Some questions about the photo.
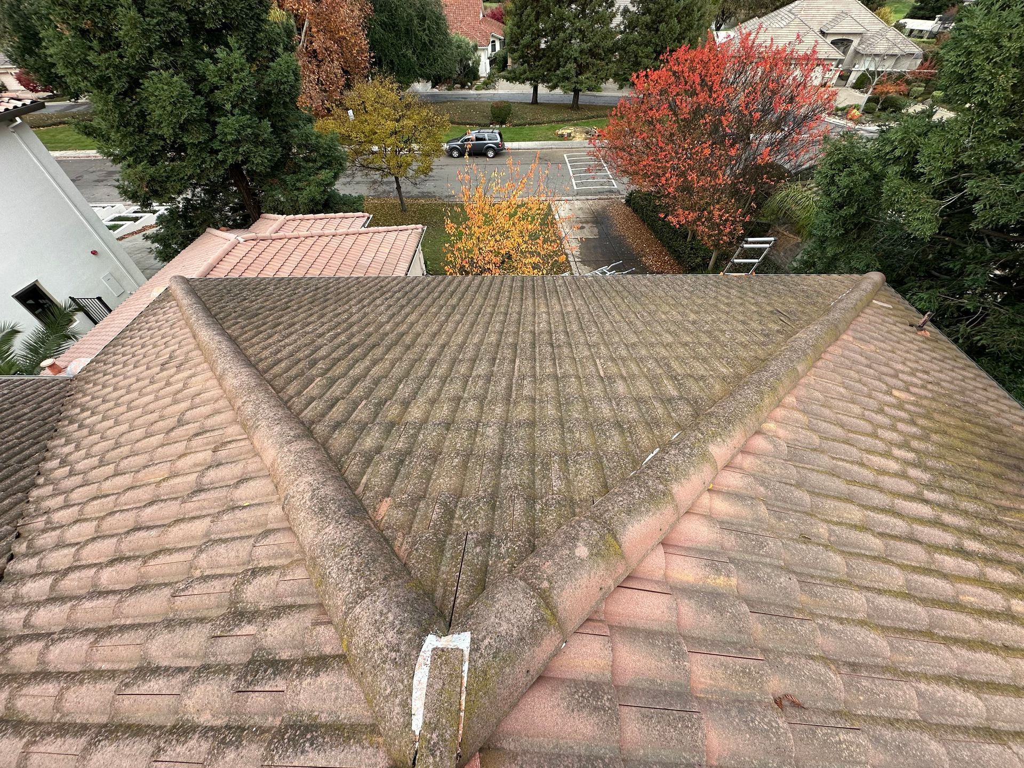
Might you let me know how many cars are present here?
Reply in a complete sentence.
My tally gives 1 car in this photo.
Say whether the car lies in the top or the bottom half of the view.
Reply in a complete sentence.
The car sits in the top half of the picture.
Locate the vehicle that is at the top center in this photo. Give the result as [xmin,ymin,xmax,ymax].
[442,124,506,156]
